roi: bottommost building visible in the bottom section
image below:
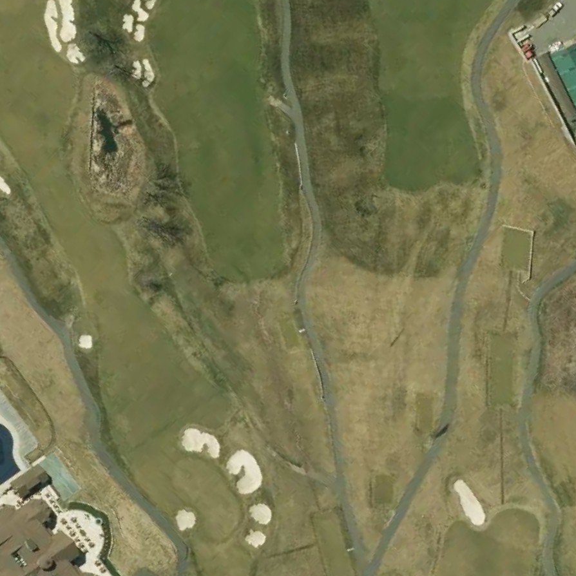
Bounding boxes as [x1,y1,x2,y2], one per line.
[0,497,83,576]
